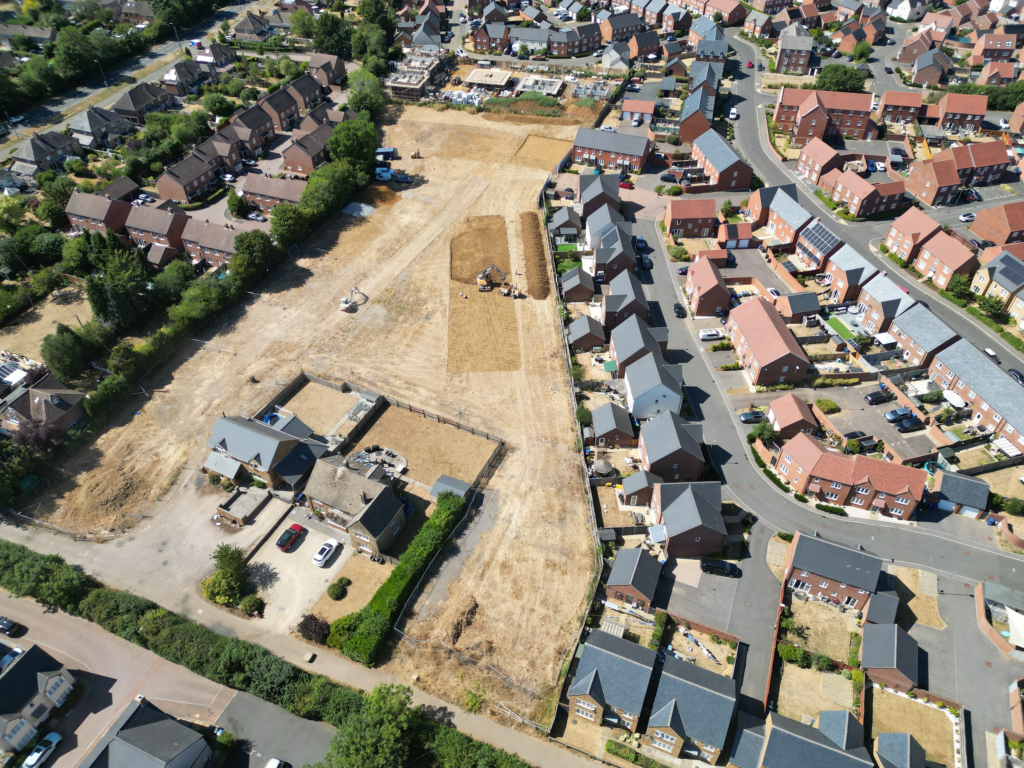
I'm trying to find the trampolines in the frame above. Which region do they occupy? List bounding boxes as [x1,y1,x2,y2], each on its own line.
[924,454,952,473]
[397,492,416,513]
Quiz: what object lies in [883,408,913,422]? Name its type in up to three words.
car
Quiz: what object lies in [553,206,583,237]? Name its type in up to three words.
building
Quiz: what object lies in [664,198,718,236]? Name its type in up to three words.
house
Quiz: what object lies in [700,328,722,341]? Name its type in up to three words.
vehicle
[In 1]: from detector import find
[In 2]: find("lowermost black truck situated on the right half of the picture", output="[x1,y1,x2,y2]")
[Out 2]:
[702,553,738,577]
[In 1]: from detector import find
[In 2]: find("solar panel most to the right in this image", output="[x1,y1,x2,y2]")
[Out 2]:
[993,254,1024,281]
